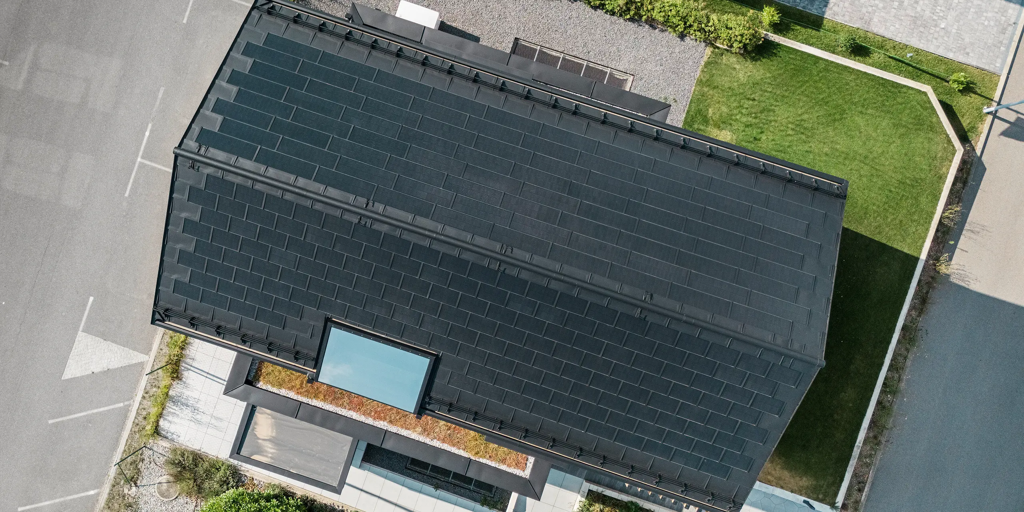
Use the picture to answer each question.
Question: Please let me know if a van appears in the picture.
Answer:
No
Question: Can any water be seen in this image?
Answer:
No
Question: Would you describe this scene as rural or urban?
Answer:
urban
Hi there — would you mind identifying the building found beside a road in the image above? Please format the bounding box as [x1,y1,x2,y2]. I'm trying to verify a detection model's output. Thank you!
[150,0,850,512]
